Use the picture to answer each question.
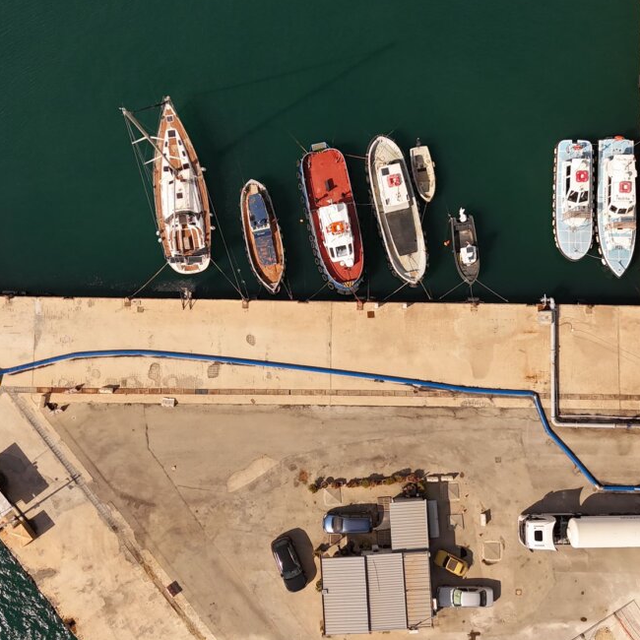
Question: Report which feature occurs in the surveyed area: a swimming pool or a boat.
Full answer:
It is a boat that can be seen here.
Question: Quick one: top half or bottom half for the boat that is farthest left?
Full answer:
The top half of the photo is where the boat that is farthest left is.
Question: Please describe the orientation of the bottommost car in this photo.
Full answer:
From this overhead view, the bottommost car appears to run from side to side.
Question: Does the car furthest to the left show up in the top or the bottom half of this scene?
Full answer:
Seen from above, the car furthest to the left lies in the bottom half of the view.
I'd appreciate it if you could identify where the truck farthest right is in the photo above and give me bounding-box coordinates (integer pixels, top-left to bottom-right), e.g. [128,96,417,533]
[518,513,640,554]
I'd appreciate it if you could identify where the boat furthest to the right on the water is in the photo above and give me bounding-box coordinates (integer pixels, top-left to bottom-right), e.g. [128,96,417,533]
[595,136,637,279]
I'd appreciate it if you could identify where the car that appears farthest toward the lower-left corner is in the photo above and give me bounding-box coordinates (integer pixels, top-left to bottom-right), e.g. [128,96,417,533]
[271,535,306,594]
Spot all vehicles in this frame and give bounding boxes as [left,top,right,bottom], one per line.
[518,513,640,554]
[271,535,306,594]
[324,513,372,537]
[437,585,495,610]
[432,550,472,580]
